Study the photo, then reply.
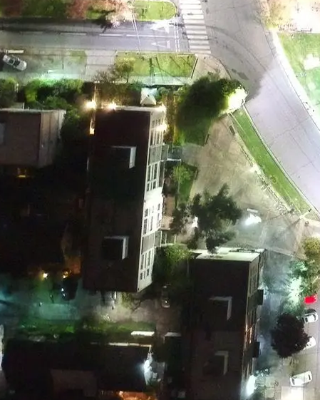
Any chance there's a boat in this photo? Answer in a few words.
No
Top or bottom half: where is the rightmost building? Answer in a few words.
bottom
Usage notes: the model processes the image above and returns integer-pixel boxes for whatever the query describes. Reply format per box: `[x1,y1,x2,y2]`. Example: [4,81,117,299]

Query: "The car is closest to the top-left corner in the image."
[2,53,25,69]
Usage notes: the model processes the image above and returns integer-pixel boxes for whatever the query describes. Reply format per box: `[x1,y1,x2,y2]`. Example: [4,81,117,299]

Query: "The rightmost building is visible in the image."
[185,250,262,400]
